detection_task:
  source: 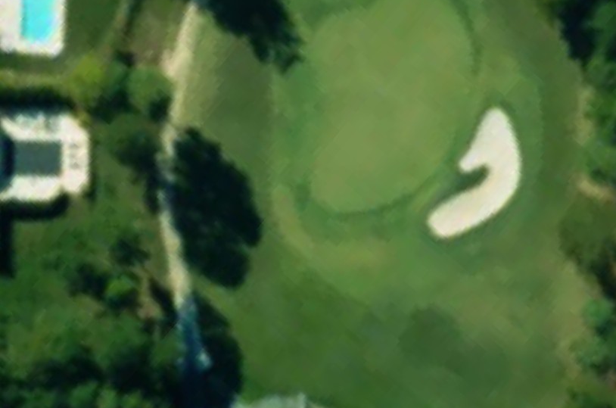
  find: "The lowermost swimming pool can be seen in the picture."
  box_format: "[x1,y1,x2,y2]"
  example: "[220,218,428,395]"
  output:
[0,110,90,201]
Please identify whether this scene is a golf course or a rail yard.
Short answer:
golf course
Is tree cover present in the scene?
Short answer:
Yes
